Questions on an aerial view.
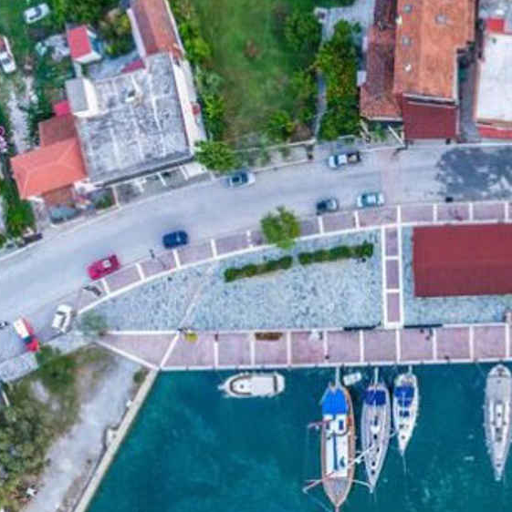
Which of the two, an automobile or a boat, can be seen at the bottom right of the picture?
boat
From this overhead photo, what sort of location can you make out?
residential area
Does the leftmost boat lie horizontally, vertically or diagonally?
horizontally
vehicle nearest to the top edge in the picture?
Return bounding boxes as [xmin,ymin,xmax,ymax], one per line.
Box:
[21,1,53,25]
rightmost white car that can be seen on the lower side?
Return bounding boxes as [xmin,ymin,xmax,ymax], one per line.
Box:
[49,304,76,331]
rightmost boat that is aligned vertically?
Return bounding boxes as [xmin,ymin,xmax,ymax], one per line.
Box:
[475,360,512,481]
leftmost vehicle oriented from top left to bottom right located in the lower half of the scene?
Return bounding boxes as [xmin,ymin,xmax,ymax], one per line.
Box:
[11,314,42,353]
